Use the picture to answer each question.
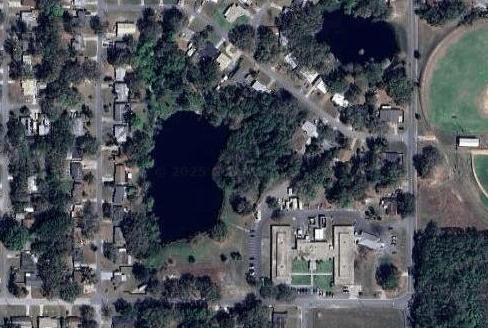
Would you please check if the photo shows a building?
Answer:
Yes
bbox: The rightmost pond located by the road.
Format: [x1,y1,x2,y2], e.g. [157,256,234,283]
[317,9,398,64]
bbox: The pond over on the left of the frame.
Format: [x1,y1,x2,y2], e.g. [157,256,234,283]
[150,111,229,242]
